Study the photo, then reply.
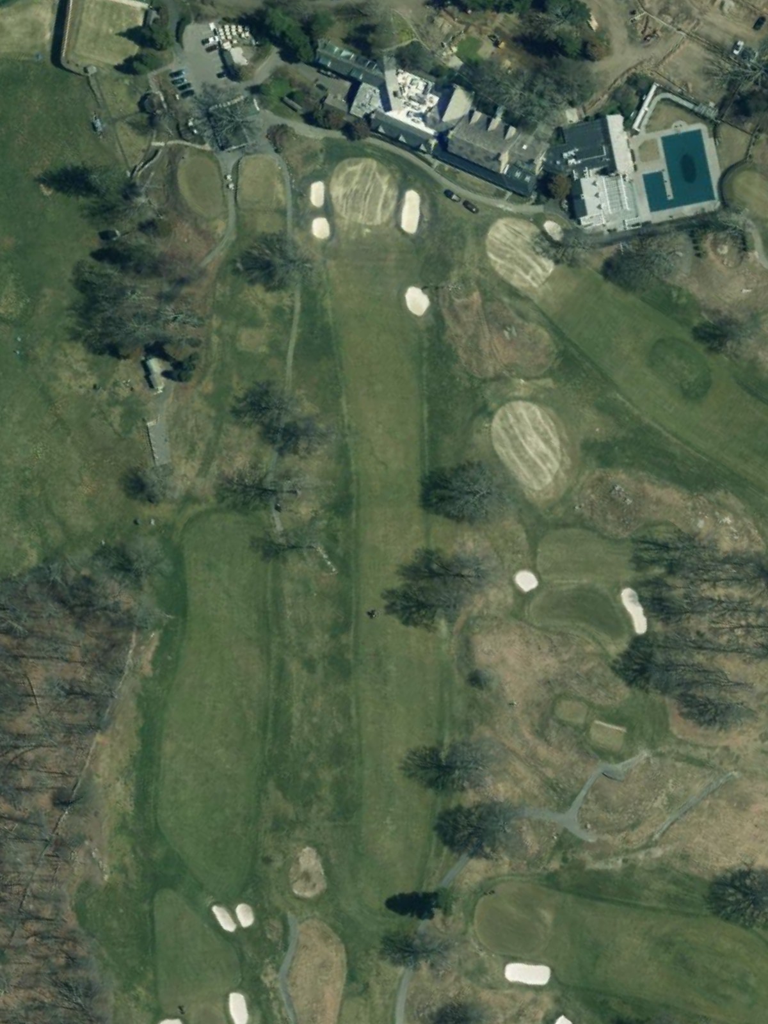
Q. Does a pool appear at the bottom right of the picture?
No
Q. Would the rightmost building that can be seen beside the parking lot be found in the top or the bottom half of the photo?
top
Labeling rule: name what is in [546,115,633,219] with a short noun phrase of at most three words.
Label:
building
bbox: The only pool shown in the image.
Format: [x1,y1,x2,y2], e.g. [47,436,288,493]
[629,121,722,224]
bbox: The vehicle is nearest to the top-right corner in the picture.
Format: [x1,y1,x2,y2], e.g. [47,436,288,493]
[753,15,765,30]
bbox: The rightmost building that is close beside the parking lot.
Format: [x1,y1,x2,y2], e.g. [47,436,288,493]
[315,39,549,196]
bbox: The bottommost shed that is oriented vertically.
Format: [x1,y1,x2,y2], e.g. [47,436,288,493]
[148,357,164,395]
